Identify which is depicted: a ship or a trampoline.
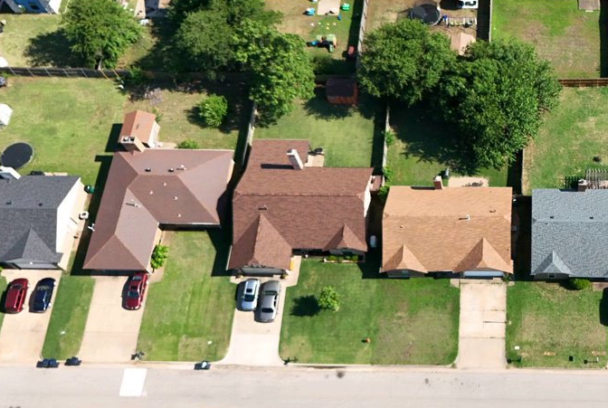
trampoline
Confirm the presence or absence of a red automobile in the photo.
Yes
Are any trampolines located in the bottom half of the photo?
No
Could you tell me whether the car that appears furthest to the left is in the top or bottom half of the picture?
bottom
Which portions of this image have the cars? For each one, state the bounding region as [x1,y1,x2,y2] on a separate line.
[1,278,32,315]
[237,277,261,313]
[124,274,149,311]
[30,278,57,314]
[258,281,282,322]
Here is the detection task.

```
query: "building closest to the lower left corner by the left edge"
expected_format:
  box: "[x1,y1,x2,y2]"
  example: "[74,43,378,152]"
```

[0,165,87,272]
